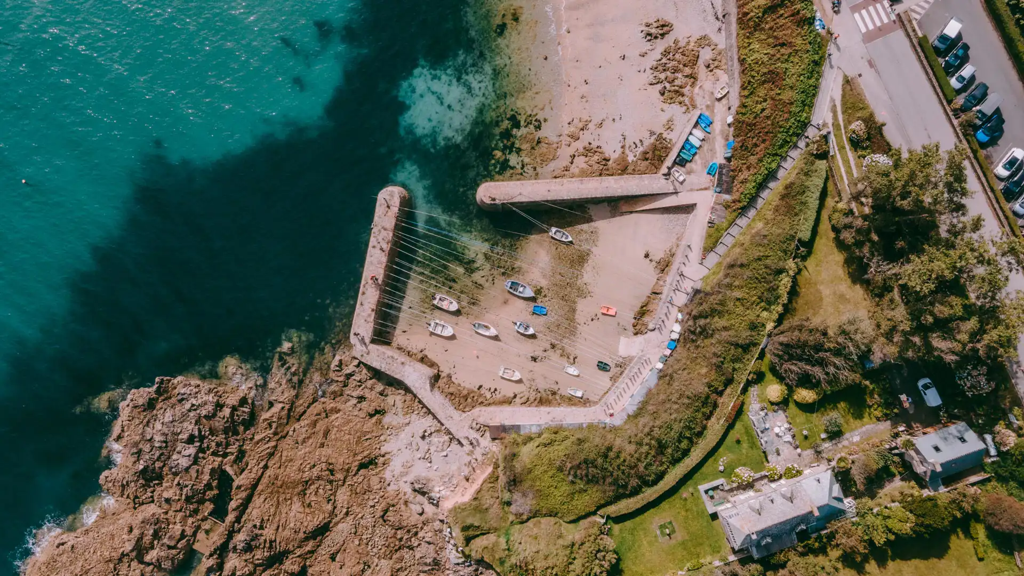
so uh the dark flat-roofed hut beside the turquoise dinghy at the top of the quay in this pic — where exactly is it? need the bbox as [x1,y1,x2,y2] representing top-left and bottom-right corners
[714,163,732,195]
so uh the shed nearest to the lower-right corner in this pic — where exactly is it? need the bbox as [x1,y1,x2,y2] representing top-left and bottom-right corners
[895,419,984,492]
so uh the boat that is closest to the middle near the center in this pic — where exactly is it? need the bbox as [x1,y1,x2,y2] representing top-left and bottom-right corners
[503,278,535,298]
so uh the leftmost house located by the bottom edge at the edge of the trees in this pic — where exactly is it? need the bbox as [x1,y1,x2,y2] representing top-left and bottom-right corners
[708,462,851,571]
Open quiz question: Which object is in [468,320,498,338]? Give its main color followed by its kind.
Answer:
white boat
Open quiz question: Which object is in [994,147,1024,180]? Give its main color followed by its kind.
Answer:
white car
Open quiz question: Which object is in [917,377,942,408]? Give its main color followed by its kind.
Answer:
blue car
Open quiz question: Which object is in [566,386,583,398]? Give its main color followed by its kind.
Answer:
white boat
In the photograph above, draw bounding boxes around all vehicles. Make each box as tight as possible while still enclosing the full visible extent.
[951,63,978,93]
[1011,193,1024,217]
[994,147,1024,180]
[917,377,942,408]
[973,113,1007,142]
[941,42,972,74]
[1000,168,1024,199]
[959,80,991,113]
[973,91,1011,124]
[933,15,971,57]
